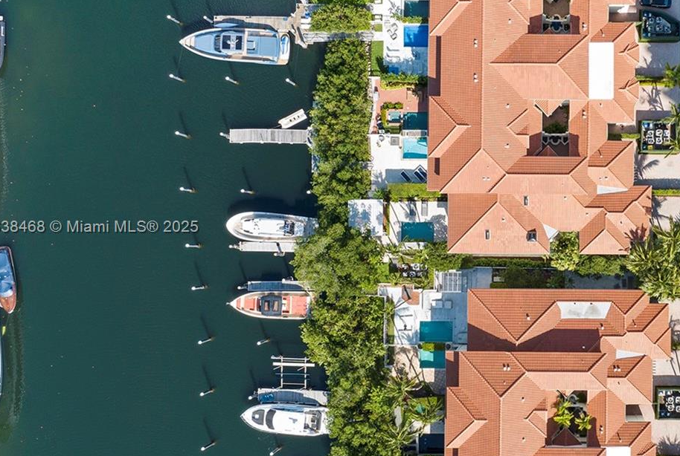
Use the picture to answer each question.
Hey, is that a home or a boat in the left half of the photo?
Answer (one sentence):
Visible in the left half of the photo is a boat.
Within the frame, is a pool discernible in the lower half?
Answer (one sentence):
Yes, looking in the lower half, one can make out a pool.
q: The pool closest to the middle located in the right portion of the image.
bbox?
[400,220,436,243]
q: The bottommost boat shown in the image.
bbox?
[239,405,336,436]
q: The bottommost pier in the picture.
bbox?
[258,386,335,405]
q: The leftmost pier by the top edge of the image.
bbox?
[214,2,307,44]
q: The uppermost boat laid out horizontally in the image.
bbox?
[177,23,293,62]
